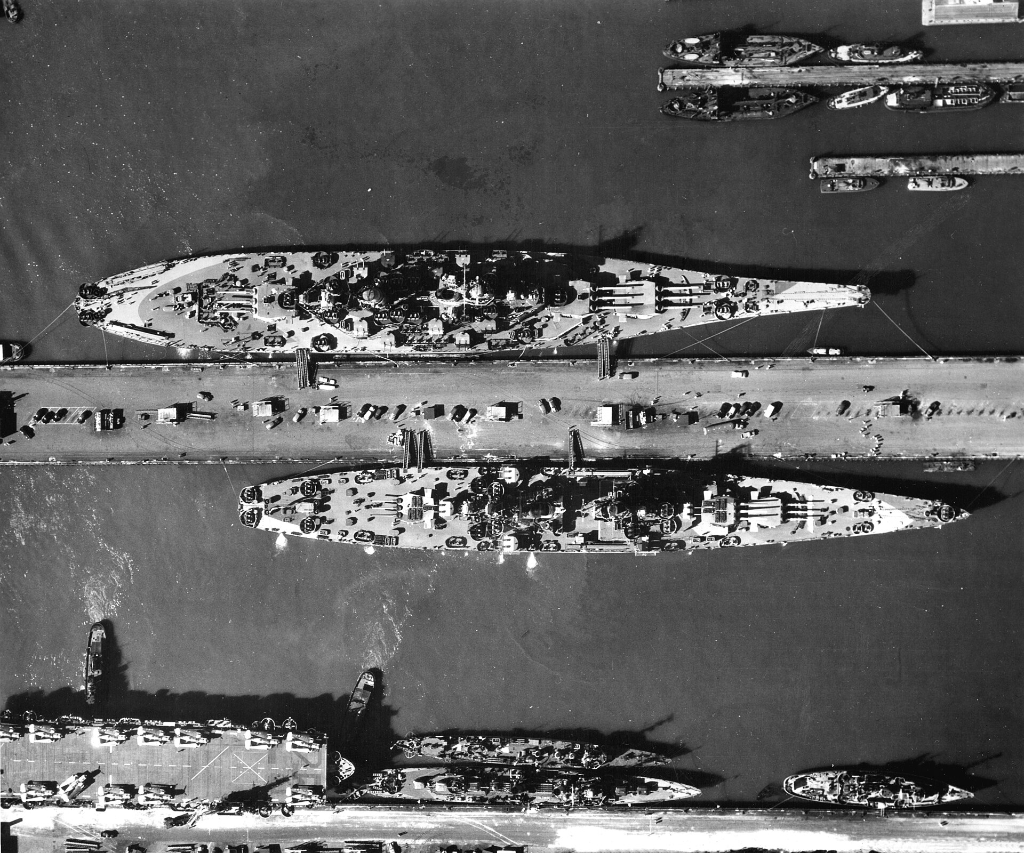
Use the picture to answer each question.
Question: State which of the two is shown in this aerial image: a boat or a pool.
boat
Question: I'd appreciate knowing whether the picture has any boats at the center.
Yes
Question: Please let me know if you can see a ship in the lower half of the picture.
Yes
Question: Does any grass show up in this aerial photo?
No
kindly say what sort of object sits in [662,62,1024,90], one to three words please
pier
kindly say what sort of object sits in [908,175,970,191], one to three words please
boat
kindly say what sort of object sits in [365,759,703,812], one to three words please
ship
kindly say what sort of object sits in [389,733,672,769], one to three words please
ship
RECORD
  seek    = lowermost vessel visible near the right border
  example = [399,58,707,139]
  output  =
[782,764,975,809]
